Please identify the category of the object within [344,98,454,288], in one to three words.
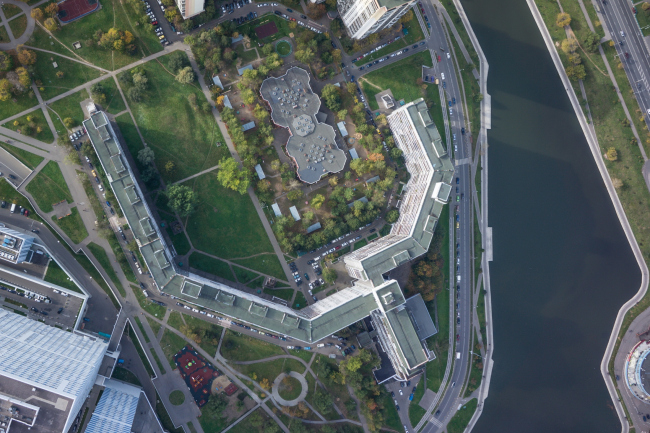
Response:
building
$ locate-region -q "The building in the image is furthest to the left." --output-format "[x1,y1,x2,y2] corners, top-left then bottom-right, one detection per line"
[0,227,34,265]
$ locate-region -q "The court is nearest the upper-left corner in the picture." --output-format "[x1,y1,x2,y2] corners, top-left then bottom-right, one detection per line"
[58,0,97,21]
